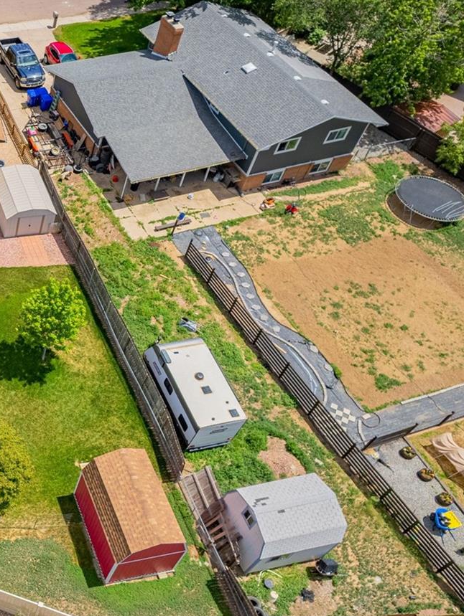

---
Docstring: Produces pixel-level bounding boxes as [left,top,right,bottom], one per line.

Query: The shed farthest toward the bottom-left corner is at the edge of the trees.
[66,448,193,583]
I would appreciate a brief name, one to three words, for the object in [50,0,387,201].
house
